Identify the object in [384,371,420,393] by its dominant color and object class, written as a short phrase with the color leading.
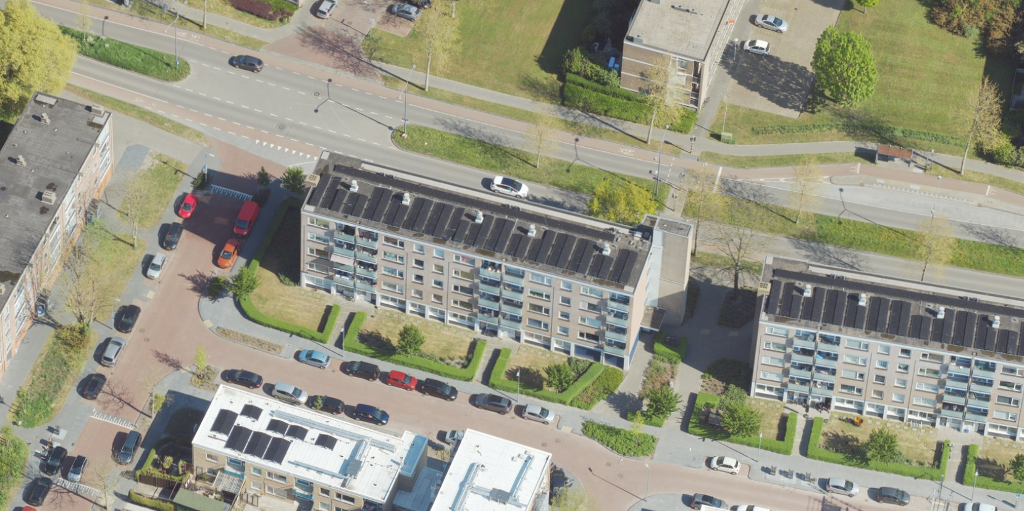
red car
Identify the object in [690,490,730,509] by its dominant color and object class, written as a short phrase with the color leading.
gray car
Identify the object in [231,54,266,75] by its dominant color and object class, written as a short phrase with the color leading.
gray car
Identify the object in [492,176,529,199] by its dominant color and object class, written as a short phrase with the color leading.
white car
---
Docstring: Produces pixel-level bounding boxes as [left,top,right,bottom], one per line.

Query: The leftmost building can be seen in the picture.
[0,90,115,376]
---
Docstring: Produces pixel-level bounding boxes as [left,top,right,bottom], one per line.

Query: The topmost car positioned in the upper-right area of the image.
[752,13,791,35]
